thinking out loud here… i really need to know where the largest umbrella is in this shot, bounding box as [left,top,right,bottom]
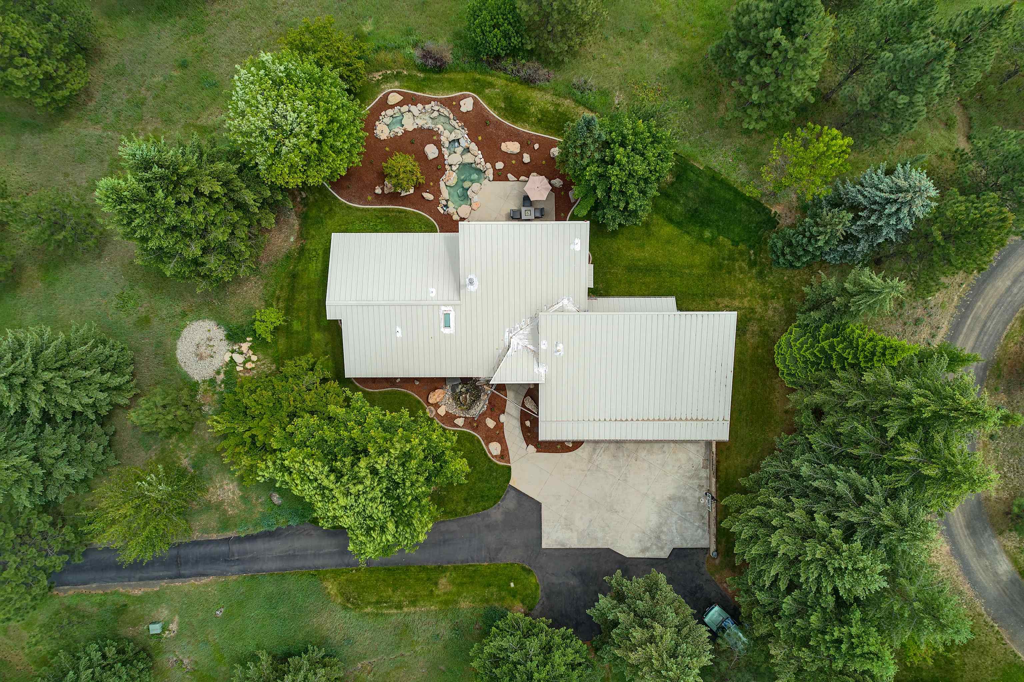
[524,176,552,201]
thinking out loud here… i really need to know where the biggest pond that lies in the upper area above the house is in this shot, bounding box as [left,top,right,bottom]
[374,101,494,221]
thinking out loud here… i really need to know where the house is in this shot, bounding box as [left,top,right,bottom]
[325,222,737,444]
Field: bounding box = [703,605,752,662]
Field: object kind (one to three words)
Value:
car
